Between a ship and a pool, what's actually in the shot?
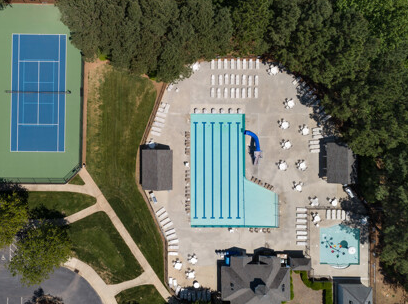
pool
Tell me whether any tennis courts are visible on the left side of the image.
Yes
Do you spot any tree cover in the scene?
Yes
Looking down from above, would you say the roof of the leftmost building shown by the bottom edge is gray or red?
gray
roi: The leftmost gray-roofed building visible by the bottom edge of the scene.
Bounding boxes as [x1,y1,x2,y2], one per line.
[220,254,290,304]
